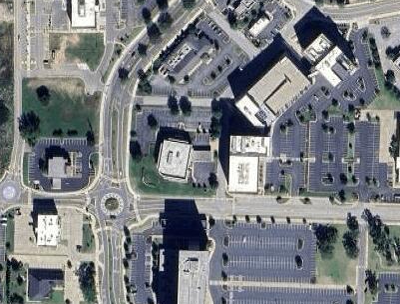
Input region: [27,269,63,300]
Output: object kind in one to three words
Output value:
house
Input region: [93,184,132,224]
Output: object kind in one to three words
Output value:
roundabout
